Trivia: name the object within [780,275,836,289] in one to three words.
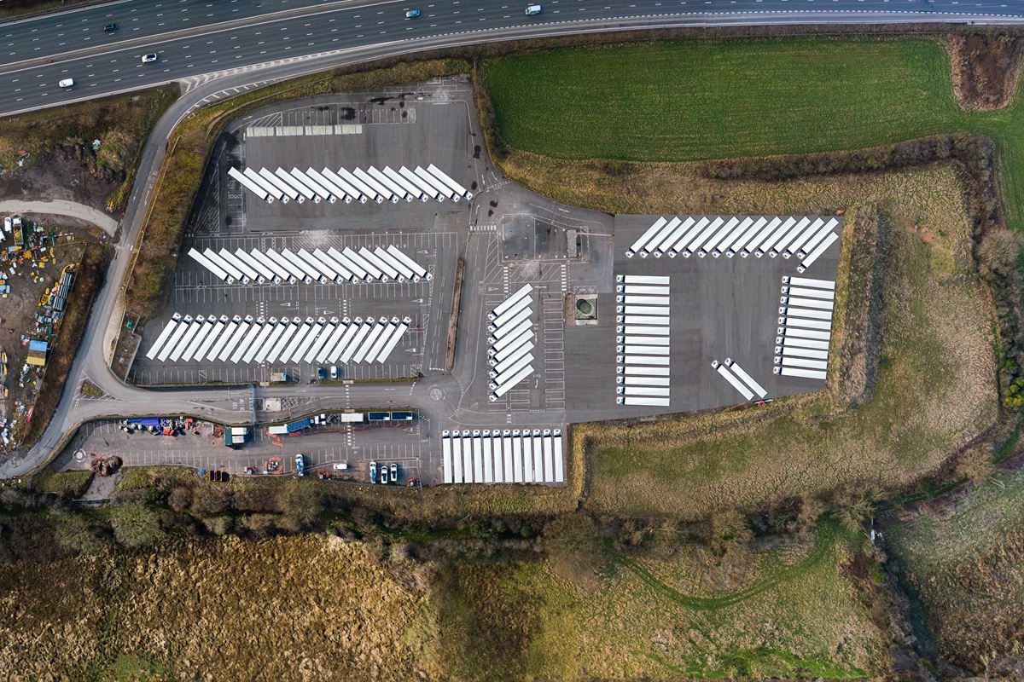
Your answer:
vehicle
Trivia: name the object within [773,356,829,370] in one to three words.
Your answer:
vehicle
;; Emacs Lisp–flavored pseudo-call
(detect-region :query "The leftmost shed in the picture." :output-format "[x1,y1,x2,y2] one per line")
[27,339,49,365]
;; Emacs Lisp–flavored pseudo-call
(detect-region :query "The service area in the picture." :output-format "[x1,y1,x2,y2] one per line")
[51,74,841,503]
